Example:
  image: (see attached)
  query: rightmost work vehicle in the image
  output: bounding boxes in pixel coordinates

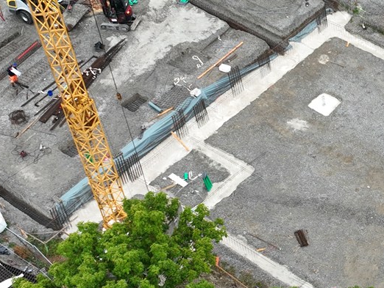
[98,0,144,31]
